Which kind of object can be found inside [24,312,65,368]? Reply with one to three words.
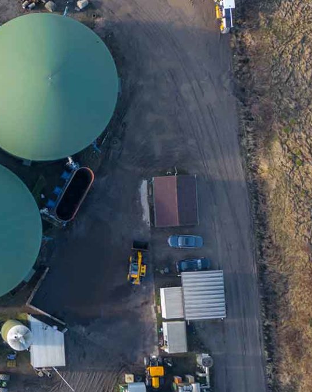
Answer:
shed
